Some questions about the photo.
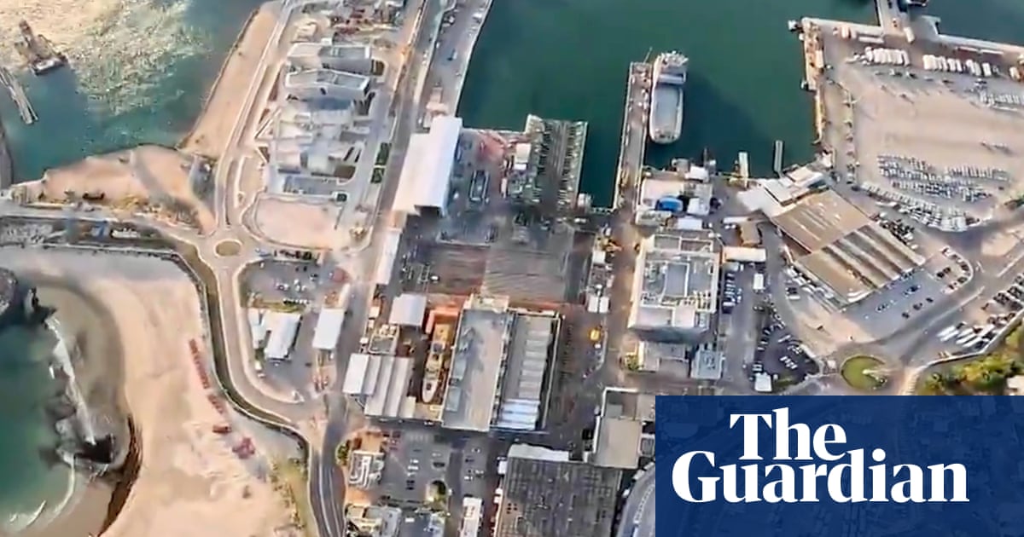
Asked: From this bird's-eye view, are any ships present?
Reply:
Yes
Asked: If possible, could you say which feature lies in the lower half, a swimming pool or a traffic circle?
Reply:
traffic circle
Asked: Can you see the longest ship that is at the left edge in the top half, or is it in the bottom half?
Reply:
top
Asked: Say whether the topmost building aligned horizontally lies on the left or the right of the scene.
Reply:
left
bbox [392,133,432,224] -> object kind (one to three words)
shed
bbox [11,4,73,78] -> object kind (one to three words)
ship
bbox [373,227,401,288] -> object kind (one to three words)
building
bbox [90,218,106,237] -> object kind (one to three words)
vehicle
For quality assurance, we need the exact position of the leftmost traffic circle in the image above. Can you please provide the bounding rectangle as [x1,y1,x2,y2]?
[196,226,258,270]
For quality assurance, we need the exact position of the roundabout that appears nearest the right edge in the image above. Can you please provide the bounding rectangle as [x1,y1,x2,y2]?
[828,346,901,401]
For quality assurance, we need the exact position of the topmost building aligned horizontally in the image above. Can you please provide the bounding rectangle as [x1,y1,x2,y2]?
[287,42,370,69]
